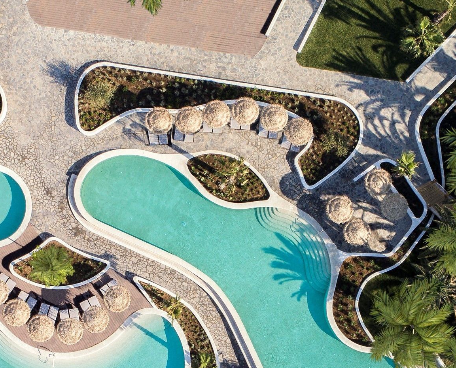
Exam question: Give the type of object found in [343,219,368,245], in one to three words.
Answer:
umbrella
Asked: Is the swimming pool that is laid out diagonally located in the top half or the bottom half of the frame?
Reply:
bottom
